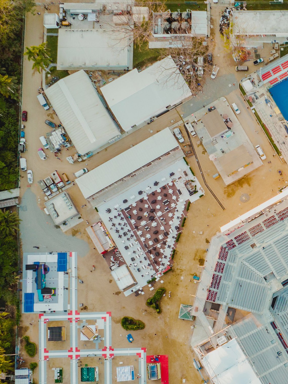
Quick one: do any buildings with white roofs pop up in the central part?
Yes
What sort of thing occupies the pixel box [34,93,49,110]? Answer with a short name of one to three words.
vehicle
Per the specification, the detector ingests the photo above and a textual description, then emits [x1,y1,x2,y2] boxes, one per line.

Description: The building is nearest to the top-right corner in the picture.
[230,10,288,44]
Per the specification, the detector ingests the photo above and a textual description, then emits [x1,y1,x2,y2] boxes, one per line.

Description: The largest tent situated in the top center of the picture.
[100,56,195,134]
